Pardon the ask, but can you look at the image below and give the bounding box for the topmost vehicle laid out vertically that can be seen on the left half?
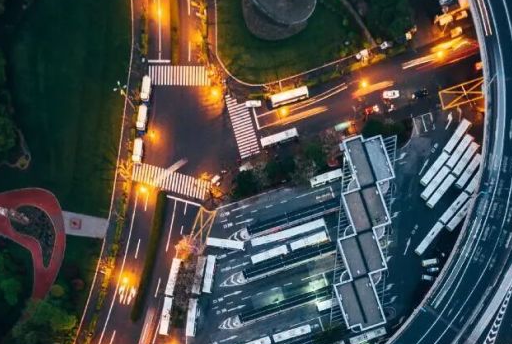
[141,73,153,103]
